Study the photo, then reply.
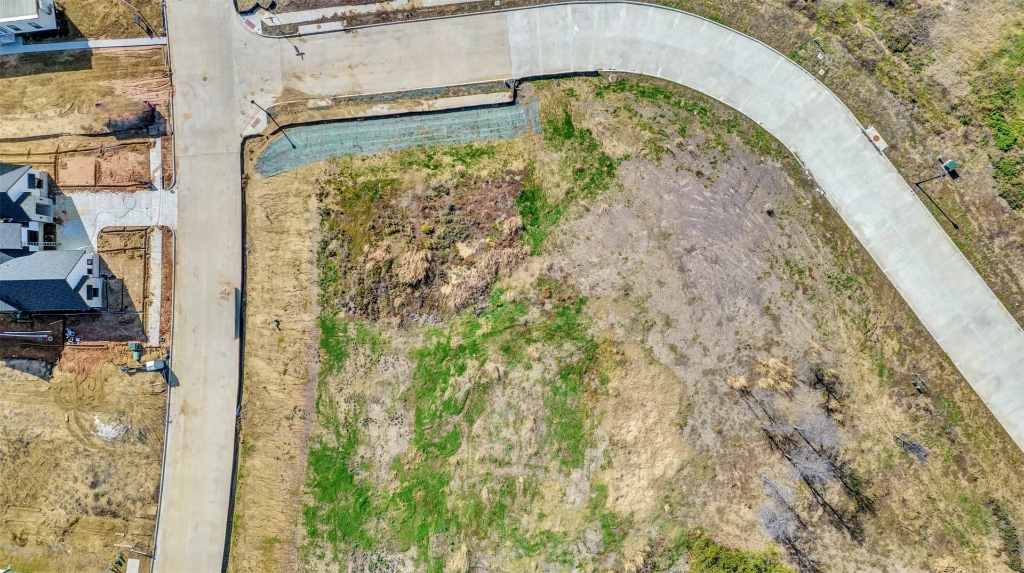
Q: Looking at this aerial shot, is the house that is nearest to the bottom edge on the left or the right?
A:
left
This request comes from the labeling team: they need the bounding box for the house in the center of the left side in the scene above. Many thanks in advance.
[0,162,103,309]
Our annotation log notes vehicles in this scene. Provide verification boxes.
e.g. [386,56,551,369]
[123,358,173,373]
